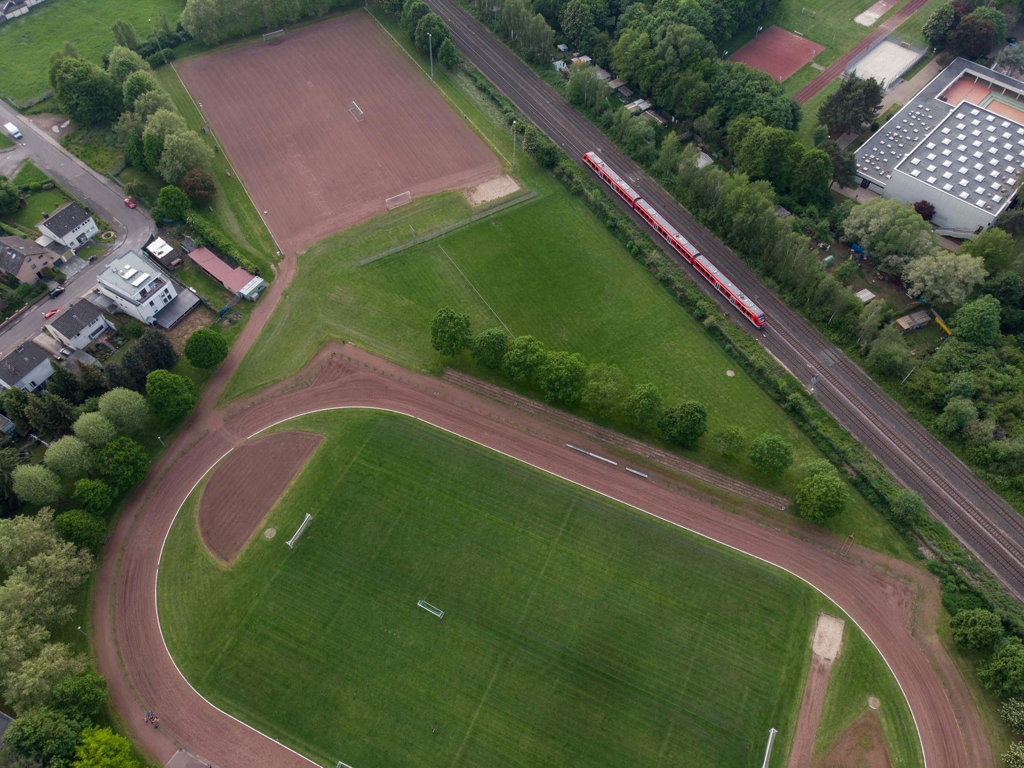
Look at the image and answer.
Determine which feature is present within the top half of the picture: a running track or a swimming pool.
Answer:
running track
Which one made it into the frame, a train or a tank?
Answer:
train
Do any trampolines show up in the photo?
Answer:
No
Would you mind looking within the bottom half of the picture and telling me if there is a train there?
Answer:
No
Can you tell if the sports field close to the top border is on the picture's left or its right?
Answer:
left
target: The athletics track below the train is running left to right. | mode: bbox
[106,358,980,768]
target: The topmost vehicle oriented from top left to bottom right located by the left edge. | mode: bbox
[2,124,19,139]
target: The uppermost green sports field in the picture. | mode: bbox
[333,187,911,557]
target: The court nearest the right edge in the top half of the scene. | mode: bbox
[843,30,931,94]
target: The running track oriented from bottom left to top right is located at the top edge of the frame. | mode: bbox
[794,0,930,104]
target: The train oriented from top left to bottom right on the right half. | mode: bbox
[585,150,768,331]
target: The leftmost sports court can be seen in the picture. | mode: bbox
[727,26,825,82]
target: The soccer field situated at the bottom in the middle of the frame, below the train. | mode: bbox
[156,407,926,768]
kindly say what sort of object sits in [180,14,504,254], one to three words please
sports field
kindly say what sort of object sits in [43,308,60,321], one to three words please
vehicle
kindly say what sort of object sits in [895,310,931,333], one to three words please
shed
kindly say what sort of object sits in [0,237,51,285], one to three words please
house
